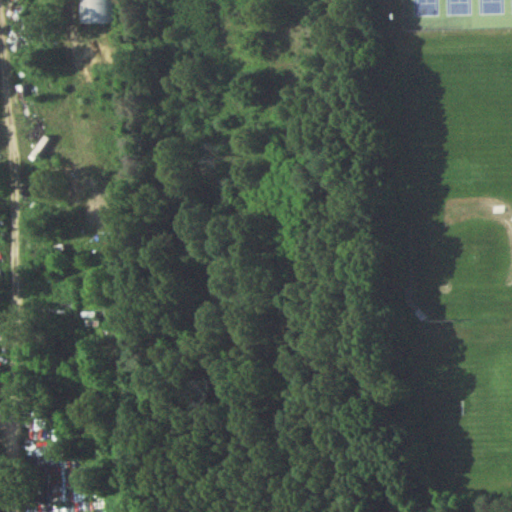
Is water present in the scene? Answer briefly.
No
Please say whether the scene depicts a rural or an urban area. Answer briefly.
rural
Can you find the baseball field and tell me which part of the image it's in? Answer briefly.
right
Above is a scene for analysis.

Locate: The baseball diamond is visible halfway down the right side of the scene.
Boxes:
[436,196,512,293]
